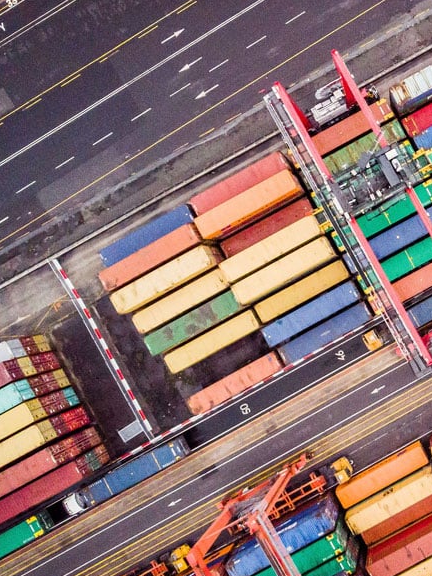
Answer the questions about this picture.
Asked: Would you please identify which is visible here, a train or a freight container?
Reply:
freight container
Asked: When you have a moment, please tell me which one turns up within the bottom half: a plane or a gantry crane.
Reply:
gantry crane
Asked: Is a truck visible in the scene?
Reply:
Yes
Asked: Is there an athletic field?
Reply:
No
